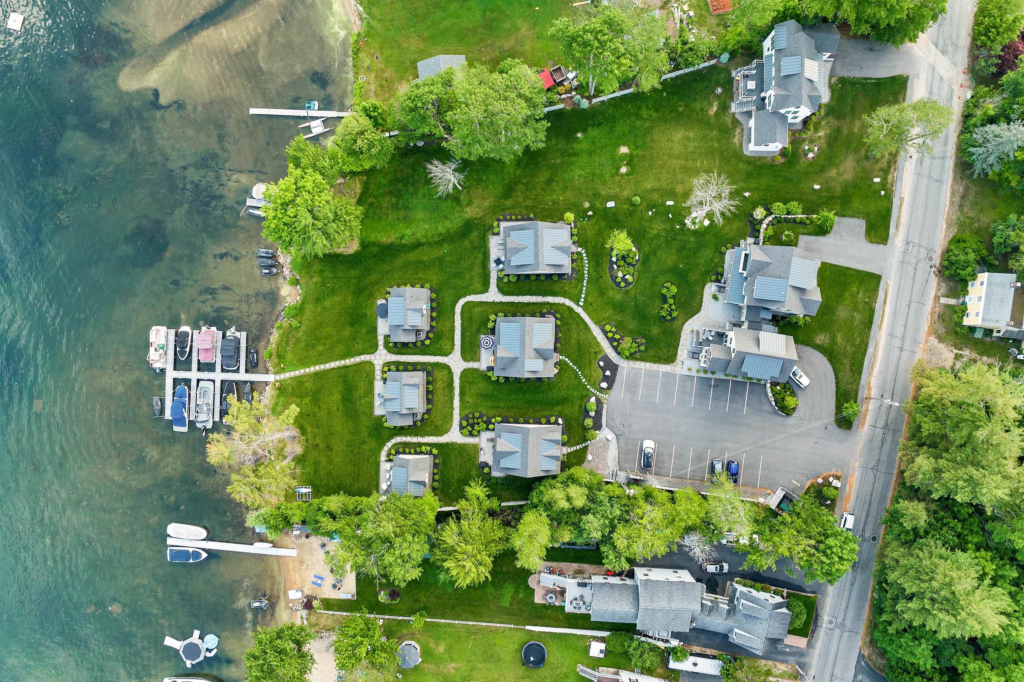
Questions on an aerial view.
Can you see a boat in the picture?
Yes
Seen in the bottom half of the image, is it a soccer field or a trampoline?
trampoline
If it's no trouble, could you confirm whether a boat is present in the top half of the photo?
Yes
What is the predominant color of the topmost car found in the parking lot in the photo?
white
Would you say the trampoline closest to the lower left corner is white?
Yes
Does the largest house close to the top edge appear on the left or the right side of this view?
right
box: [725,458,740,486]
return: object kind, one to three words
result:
car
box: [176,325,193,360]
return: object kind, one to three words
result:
boat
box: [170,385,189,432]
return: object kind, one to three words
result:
boat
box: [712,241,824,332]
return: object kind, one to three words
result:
house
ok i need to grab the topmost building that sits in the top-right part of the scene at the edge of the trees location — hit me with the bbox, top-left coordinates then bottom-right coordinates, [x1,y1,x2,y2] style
[730,18,846,149]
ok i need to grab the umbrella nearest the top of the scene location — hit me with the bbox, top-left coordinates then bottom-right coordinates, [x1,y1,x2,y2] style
[375,303,389,317]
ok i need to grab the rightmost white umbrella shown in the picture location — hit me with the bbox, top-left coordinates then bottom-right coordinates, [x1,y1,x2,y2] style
[479,335,495,350]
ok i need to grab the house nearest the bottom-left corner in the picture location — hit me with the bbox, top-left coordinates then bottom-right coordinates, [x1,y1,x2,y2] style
[393,456,430,498]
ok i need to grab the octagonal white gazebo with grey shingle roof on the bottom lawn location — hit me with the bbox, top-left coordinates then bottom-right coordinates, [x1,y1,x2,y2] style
[395,641,423,675]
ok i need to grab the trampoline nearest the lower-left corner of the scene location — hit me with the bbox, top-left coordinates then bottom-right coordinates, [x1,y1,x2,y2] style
[165,628,220,667]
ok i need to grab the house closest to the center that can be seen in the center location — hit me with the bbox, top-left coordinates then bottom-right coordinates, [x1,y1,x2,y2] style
[495,316,556,378]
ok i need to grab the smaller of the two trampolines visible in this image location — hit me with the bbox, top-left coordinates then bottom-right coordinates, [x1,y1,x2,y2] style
[522,642,548,672]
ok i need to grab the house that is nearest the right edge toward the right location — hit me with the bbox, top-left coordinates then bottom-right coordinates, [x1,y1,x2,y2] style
[960,266,1024,343]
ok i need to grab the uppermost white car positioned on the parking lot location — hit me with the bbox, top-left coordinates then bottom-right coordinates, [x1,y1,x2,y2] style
[790,364,814,392]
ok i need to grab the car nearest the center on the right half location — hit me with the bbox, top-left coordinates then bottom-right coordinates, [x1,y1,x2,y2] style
[640,439,656,469]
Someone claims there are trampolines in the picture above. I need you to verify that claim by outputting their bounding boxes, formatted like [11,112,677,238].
[522,642,548,672]
[165,628,220,667]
